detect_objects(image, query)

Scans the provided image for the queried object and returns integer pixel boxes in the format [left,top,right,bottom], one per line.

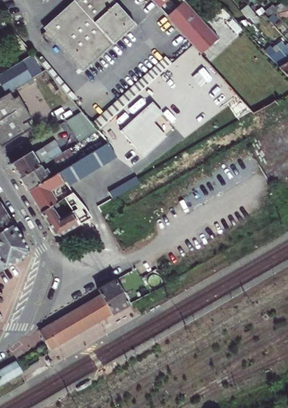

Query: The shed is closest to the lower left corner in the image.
[0,360,23,386]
